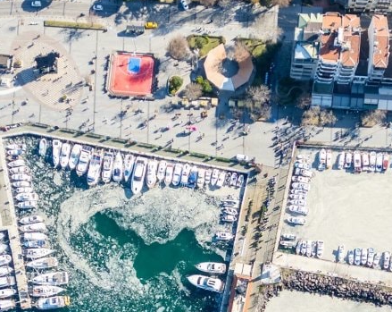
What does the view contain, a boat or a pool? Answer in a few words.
boat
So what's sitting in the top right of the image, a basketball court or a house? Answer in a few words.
house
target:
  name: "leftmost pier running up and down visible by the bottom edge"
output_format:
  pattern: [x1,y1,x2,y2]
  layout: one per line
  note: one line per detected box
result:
[6,224,30,310]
